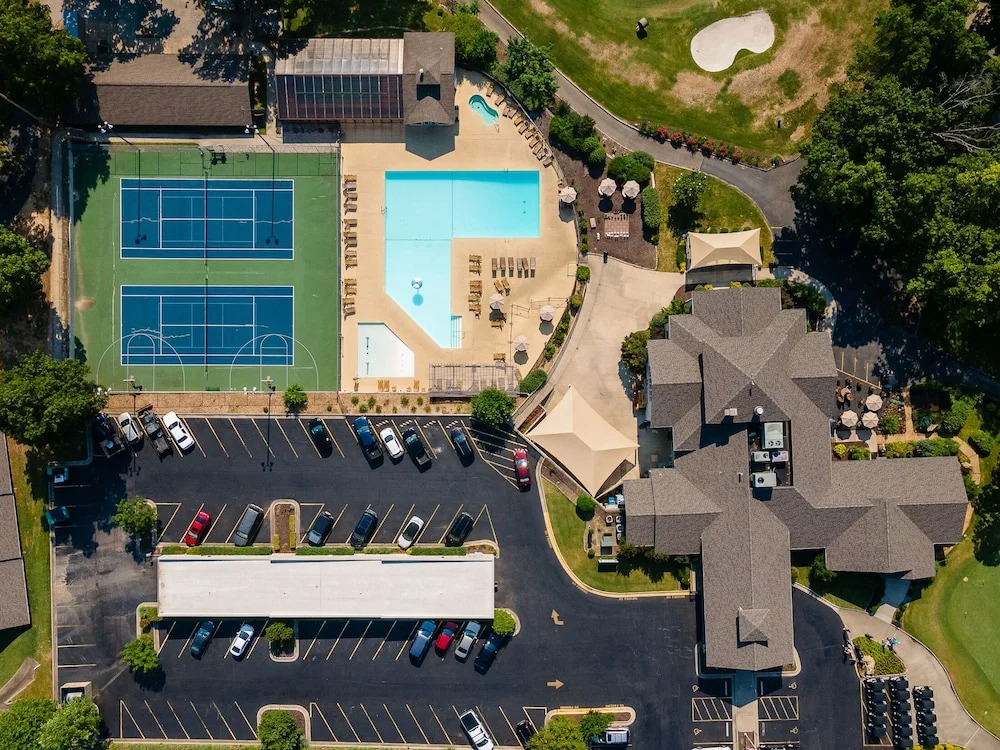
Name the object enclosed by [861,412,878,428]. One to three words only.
umbrella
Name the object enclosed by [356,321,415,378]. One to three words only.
swimming pool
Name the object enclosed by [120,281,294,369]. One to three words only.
tennis court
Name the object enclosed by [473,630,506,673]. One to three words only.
truck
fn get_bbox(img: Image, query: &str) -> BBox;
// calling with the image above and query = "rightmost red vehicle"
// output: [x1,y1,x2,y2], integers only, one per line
[512,448,530,487]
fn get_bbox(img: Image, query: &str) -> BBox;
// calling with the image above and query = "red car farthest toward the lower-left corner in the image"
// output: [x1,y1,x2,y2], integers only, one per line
[184,509,212,545]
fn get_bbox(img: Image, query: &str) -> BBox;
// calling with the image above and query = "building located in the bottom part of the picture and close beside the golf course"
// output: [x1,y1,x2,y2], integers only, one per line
[624,286,967,669]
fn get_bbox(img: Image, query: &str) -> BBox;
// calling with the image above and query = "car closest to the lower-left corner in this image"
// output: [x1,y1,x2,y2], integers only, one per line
[188,620,216,657]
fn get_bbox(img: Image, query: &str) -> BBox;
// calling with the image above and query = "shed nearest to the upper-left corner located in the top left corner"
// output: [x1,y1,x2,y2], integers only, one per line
[67,55,251,128]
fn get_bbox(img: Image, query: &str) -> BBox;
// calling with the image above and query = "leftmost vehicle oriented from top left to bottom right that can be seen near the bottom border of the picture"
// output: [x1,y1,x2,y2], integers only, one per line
[458,709,493,750]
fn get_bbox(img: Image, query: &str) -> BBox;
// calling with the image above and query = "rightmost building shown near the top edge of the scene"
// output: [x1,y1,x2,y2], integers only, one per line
[402,32,457,127]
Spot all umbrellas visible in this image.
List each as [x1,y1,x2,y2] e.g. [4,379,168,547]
[514,336,528,351]
[622,181,640,197]
[840,410,856,427]
[489,294,504,309]
[865,395,882,410]
[599,179,616,196]
[560,187,576,203]
[540,307,555,321]
[861,412,878,428]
